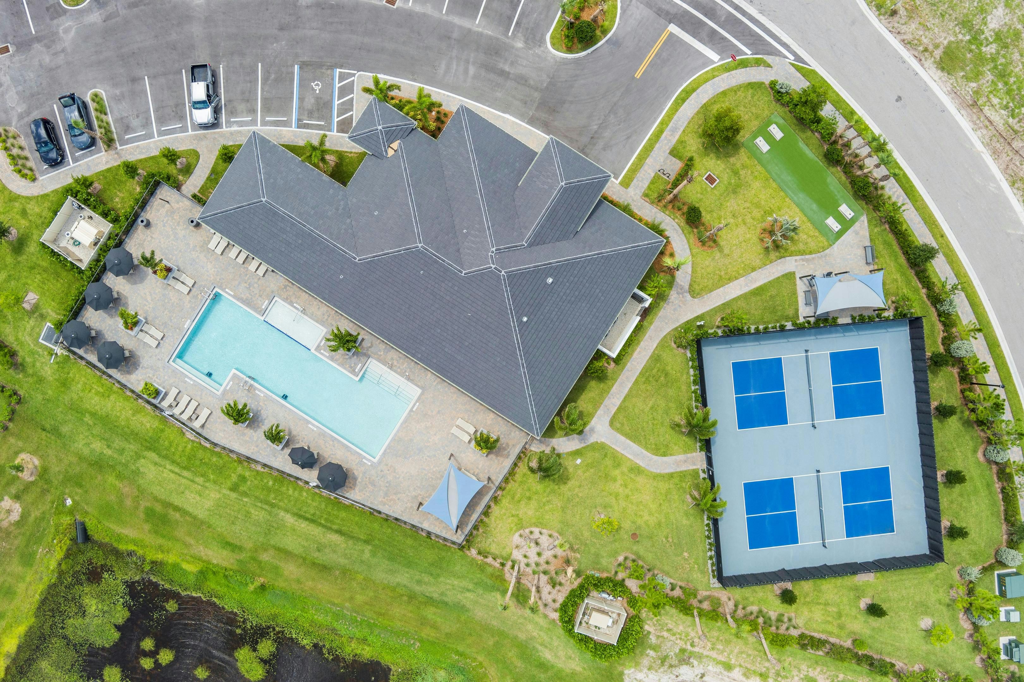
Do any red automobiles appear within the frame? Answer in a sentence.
No, no red automobile is visible in the scene.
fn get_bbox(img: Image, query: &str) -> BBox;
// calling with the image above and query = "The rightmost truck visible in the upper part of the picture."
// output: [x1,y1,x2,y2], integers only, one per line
[187,62,224,128]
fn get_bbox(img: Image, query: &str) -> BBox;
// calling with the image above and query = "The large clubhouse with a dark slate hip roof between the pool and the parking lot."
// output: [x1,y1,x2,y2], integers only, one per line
[196,94,667,440]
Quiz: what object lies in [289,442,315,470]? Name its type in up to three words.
umbrella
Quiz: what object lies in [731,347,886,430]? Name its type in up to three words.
sports court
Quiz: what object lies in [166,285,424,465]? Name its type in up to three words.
swimming pool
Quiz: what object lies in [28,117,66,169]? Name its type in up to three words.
car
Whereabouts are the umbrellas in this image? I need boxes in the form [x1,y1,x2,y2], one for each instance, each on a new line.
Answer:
[98,341,127,370]
[289,442,315,470]
[318,462,347,490]
[63,319,93,348]
[86,283,117,310]
[106,249,136,276]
